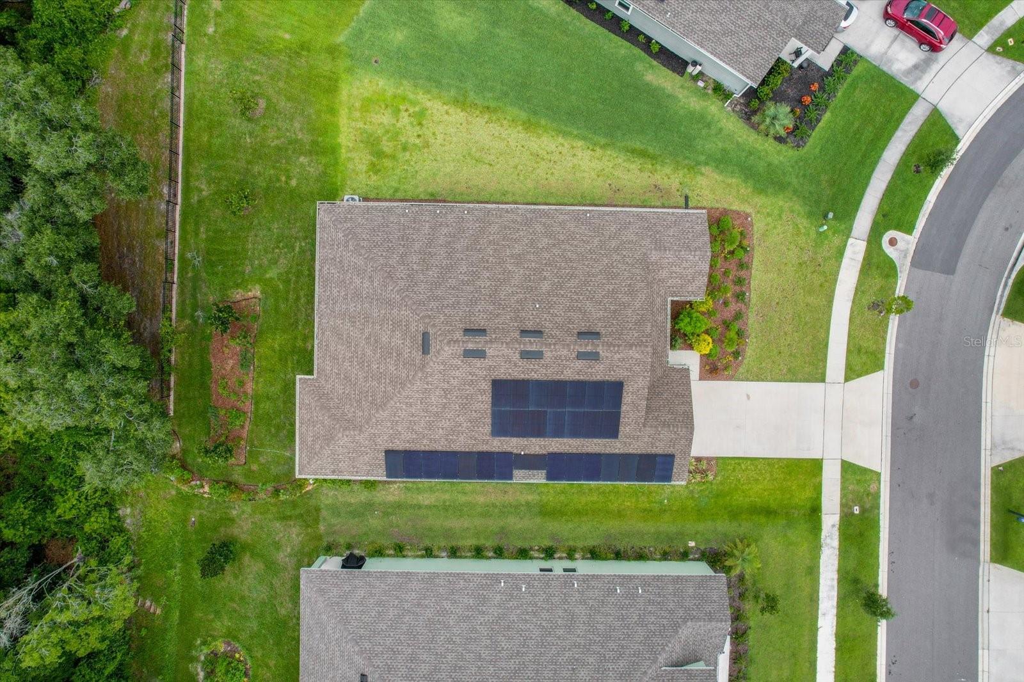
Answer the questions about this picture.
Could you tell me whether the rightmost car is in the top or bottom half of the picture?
top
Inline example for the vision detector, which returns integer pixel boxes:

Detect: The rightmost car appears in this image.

[878,0,961,54]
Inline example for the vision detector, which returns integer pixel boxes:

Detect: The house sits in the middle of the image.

[294,202,712,485]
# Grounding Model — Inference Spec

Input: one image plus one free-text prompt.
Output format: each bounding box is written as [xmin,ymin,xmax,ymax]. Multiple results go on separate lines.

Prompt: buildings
[299,557,731,682]
[595,0,847,98]
[294,202,712,485]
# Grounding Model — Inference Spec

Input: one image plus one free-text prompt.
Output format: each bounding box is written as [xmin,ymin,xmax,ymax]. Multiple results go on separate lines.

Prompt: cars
[835,0,863,31]
[878,0,961,54]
